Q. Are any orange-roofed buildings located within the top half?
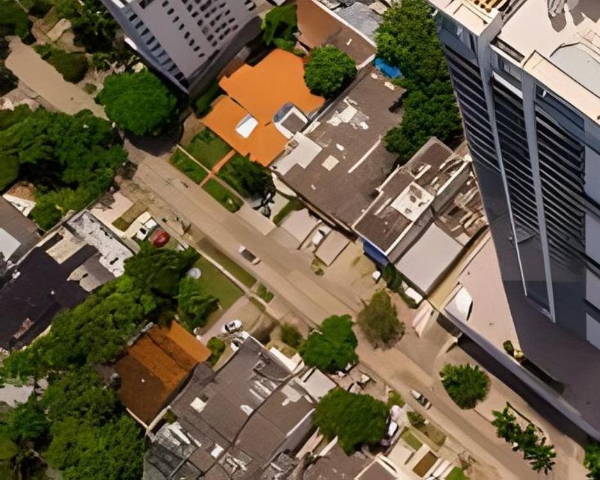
Yes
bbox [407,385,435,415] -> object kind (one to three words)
truck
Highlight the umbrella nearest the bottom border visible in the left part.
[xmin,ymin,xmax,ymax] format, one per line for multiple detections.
[188,267,202,280]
